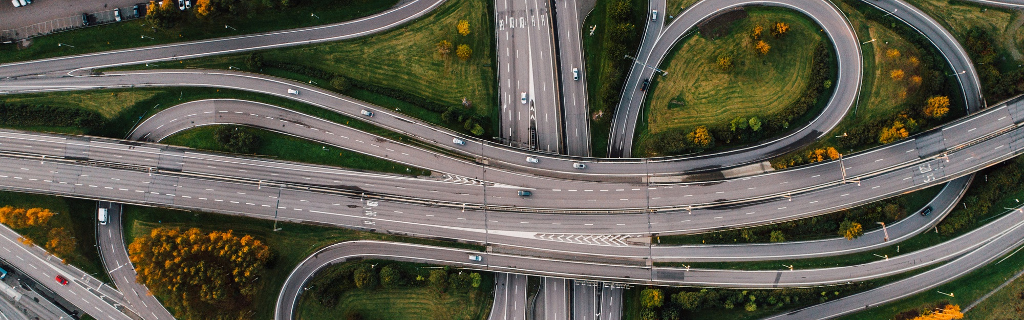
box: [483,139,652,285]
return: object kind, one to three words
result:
overpass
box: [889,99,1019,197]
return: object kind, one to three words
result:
overpass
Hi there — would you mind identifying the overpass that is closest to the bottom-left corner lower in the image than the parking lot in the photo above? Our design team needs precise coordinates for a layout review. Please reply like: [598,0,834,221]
[29,132,196,212]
